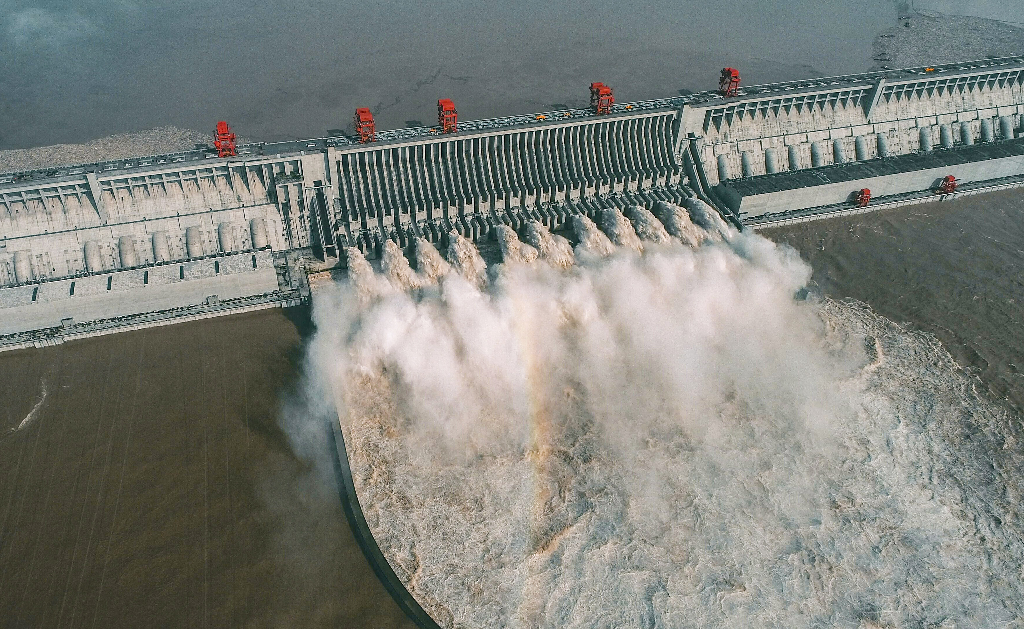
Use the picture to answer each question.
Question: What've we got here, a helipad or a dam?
dam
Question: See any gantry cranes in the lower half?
No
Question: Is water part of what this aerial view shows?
Yes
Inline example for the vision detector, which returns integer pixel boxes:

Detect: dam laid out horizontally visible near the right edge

[704,68,1024,197]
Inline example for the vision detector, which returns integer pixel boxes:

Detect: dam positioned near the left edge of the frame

[0,159,286,286]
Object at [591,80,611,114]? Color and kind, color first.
red container crane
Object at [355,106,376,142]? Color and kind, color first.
red container crane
